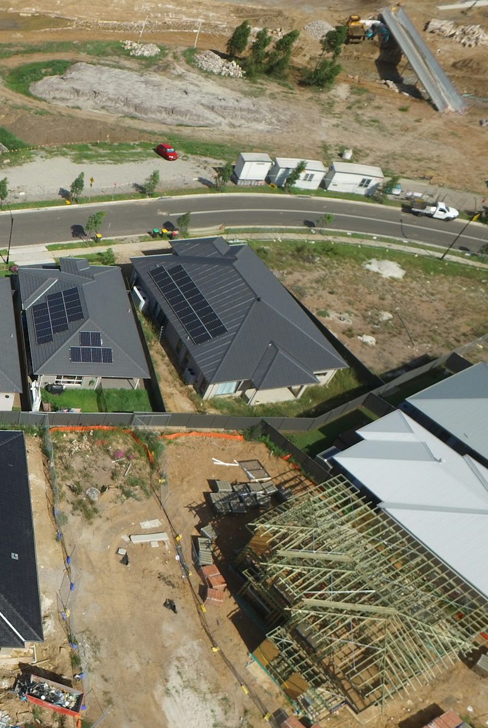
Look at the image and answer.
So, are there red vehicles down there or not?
Yes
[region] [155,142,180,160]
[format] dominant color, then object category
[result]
red car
